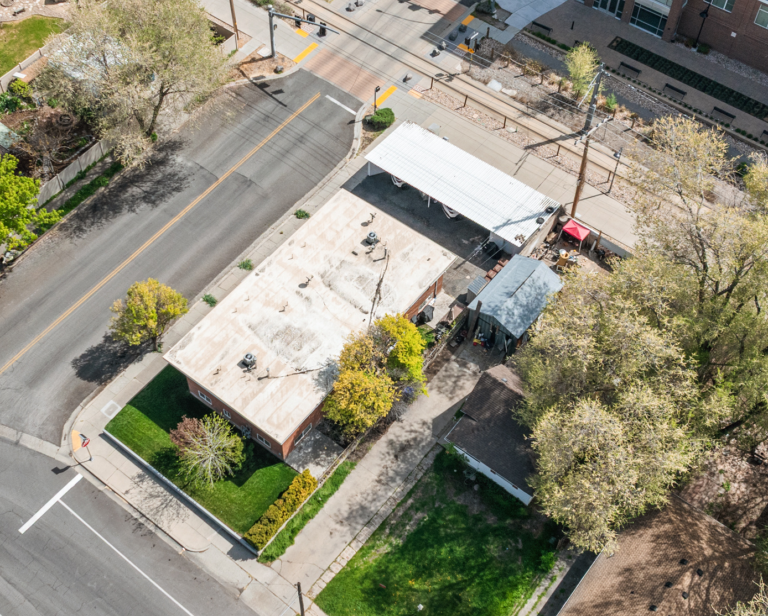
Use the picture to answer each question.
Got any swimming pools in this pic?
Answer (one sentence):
No, there isn't any swimming pool down there.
